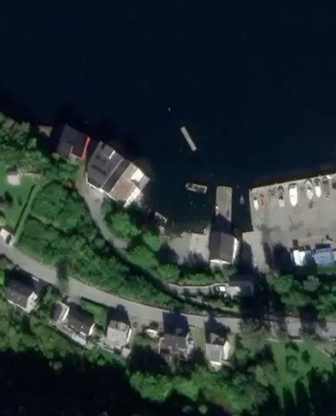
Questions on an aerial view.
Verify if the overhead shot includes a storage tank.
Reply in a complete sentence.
No, the photo shows no storage tank.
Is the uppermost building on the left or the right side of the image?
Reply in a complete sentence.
You can find the uppermost building on the left side of the picture.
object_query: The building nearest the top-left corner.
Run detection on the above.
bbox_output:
[59,124,92,159]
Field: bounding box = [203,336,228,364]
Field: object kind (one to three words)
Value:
house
